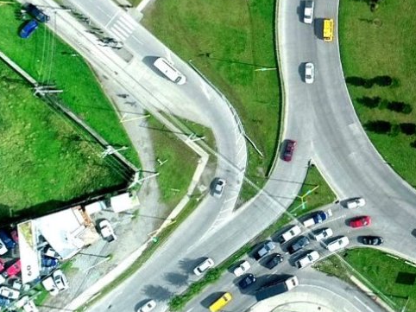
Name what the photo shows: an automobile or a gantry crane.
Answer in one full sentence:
I can see an automobile in this picture.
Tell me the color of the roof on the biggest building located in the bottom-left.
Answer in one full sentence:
The roof over the biggest building located in the bottom-left appears white.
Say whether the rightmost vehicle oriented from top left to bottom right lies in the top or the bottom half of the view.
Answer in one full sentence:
The rightmost vehicle oriented from top left to bottom right sits in the top half of the picture.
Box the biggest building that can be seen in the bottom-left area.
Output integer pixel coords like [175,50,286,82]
[34,208,93,261]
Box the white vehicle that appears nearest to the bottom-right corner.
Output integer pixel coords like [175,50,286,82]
[326,235,351,254]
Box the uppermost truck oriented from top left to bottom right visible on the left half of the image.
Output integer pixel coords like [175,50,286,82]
[21,1,50,23]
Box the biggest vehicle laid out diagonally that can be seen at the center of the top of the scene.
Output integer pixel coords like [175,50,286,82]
[149,56,189,86]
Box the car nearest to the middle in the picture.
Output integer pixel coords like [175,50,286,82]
[212,177,226,197]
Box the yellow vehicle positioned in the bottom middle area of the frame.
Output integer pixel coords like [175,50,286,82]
[206,293,233,312]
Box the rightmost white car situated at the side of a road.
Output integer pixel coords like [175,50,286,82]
[345,197,367,210]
